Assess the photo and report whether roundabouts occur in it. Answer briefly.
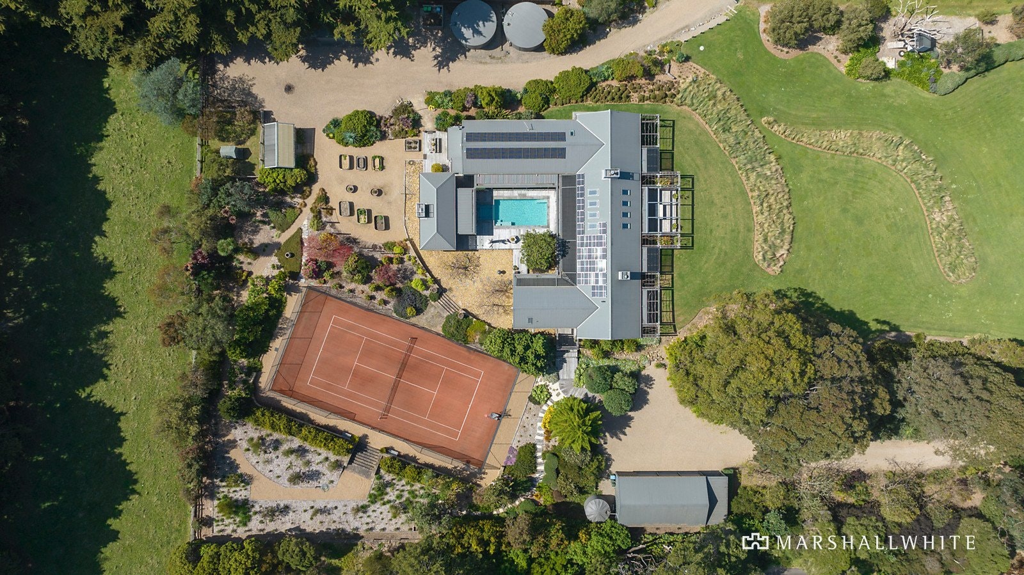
No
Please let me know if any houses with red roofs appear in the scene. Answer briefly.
No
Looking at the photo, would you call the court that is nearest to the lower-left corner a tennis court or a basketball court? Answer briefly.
tennis court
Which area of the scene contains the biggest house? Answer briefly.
center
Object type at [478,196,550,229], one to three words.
swimming pool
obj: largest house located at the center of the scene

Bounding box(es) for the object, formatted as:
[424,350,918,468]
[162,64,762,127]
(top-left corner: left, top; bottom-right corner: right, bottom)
[448,107,642,350]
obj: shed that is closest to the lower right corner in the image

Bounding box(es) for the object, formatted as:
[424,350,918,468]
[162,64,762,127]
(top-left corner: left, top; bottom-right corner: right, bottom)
[615,471,728,527]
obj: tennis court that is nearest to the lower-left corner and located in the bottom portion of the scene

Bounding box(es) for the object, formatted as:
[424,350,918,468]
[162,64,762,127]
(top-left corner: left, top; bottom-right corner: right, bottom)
[270,289,518,467]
